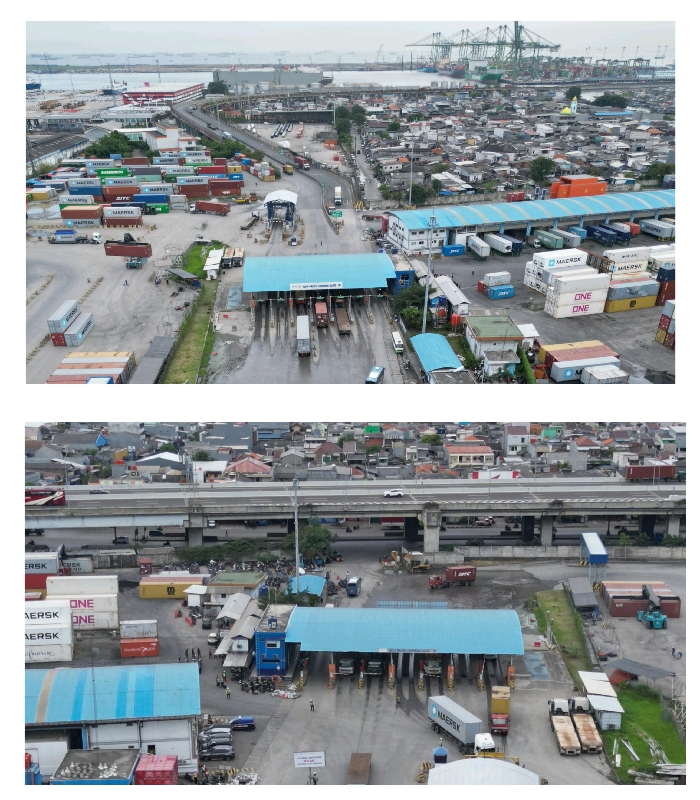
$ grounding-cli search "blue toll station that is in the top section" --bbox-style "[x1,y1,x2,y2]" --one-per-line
[243,254,396,332]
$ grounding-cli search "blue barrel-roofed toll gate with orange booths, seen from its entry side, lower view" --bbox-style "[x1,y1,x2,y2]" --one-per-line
[288,608,531,690]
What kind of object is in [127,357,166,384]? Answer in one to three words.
shed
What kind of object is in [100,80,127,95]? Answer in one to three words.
ship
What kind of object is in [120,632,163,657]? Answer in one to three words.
shipping container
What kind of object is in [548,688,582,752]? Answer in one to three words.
truck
